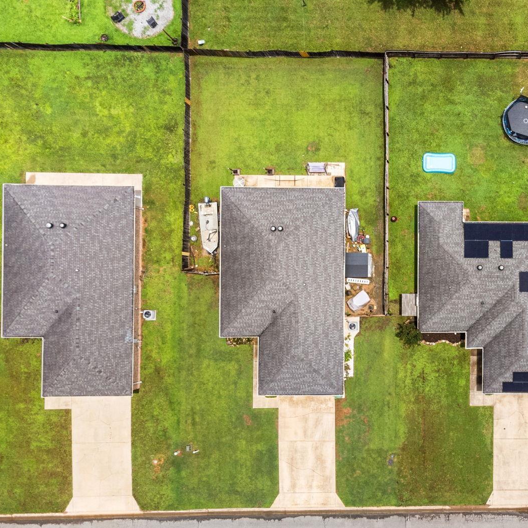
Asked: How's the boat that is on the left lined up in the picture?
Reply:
up and down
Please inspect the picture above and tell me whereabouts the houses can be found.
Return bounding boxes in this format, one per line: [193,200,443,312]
[417,201,528,395]
[219,186,346,396]
[1,184,147,397]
